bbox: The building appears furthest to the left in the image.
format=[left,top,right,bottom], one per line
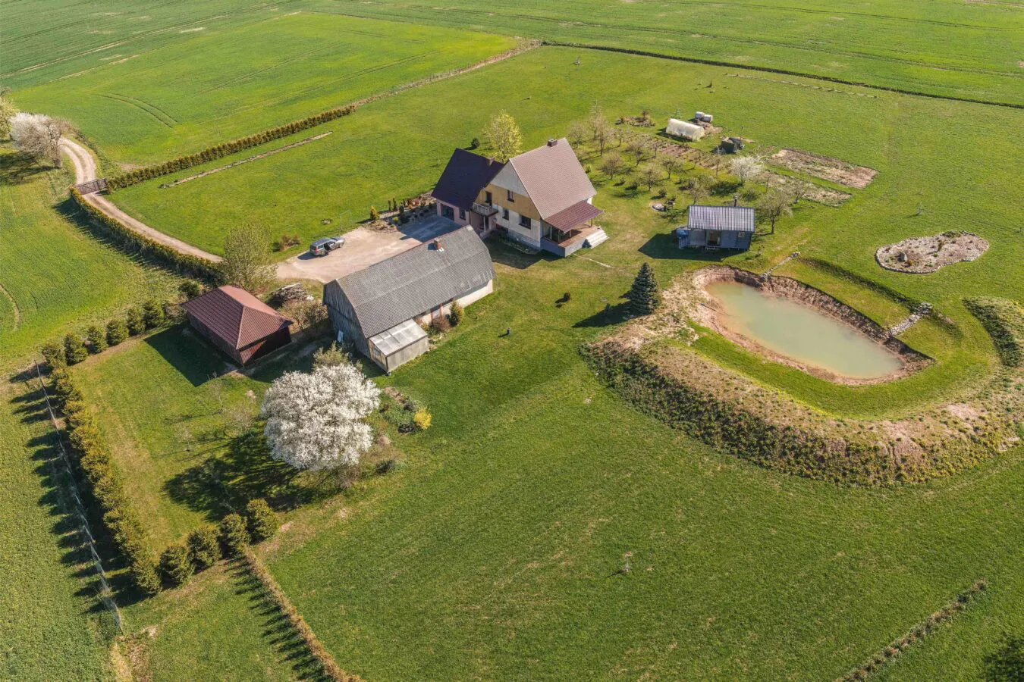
[180,282,294,367]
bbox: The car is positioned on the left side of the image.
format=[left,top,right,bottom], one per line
[309,236,344,254]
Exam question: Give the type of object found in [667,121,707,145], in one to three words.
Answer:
greenhouse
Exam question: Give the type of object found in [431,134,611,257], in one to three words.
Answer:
house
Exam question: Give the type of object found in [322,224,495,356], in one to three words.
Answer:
barn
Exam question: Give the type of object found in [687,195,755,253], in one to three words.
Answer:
building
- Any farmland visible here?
Yes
